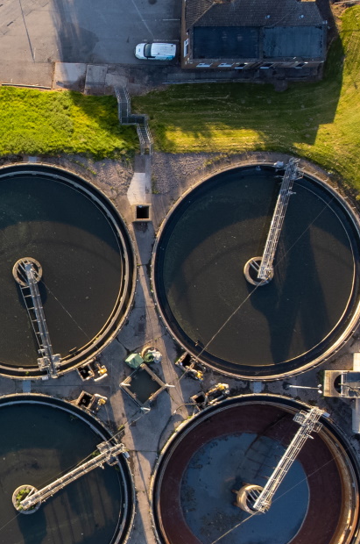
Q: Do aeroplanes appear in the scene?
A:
No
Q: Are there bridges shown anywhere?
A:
Yes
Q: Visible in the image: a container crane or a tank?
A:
tank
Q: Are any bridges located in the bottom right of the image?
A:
Yes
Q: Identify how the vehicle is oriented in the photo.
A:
from left to right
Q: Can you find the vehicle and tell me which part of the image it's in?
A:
top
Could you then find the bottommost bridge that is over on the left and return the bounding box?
[14,440,133,514]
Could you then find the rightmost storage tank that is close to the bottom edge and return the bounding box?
[150,393,360,544]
